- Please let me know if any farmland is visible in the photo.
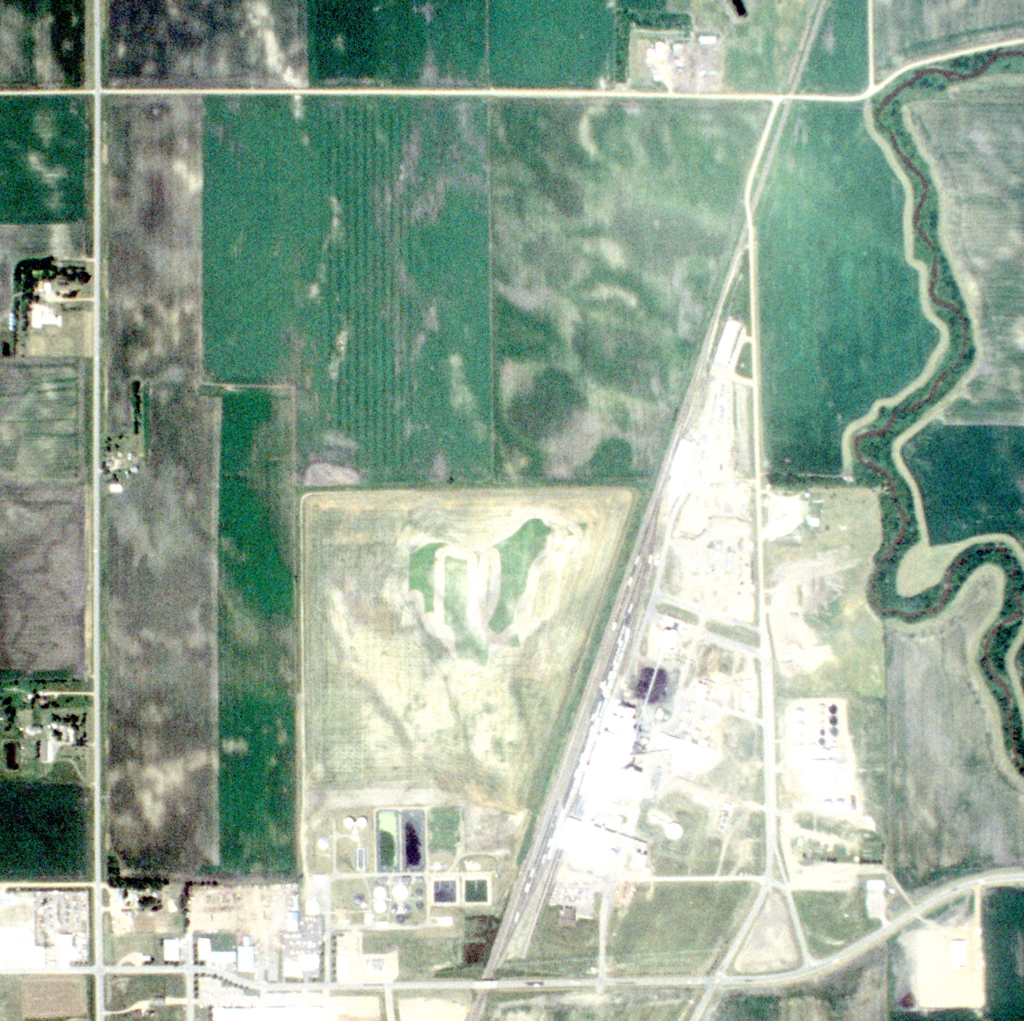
Yes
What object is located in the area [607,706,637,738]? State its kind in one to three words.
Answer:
house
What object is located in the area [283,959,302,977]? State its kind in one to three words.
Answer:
building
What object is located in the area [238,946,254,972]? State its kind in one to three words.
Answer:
building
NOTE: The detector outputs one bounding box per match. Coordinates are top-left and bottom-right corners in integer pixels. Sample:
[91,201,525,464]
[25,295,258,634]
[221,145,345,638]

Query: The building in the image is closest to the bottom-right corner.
[951,941,967,967]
